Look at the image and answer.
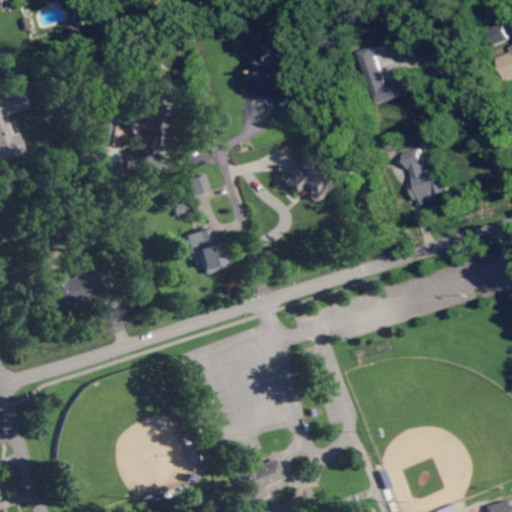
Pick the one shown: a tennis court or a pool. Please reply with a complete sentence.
The image shows a pool.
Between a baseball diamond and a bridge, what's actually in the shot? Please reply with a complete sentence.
Visible in the photo is a baseball diamond.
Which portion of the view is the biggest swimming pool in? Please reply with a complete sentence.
Look in the top left portion of the view to spot the biggest swimming pool.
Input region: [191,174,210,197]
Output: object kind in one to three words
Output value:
building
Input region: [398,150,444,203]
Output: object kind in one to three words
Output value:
house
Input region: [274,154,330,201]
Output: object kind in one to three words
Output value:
house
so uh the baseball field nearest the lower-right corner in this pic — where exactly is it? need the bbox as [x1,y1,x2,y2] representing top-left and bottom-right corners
[344,357,512,512]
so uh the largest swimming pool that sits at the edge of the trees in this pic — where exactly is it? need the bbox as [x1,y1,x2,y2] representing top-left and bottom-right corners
[36,4,68,29]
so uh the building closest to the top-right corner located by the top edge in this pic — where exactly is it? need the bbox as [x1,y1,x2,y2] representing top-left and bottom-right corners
[488,24,510,49]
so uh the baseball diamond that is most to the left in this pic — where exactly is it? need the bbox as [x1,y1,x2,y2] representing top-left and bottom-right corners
[56,366,208,507]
